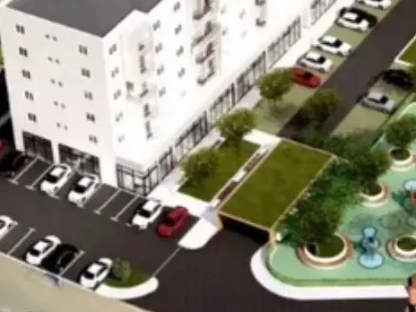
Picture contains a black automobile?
Yes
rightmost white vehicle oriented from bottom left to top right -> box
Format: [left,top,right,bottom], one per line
[129,198,165,227]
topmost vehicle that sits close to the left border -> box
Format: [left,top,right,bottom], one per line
[0,148,28,176]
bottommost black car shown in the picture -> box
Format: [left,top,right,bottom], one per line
[42,241,79,271]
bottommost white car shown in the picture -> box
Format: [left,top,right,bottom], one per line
[77,255,114,287]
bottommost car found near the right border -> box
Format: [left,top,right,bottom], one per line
[361,89,399,112]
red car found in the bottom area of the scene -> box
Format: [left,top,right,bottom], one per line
[158,207,190,235]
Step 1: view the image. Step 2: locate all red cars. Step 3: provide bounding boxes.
[287,67,324,88]
[158,207,190,235]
